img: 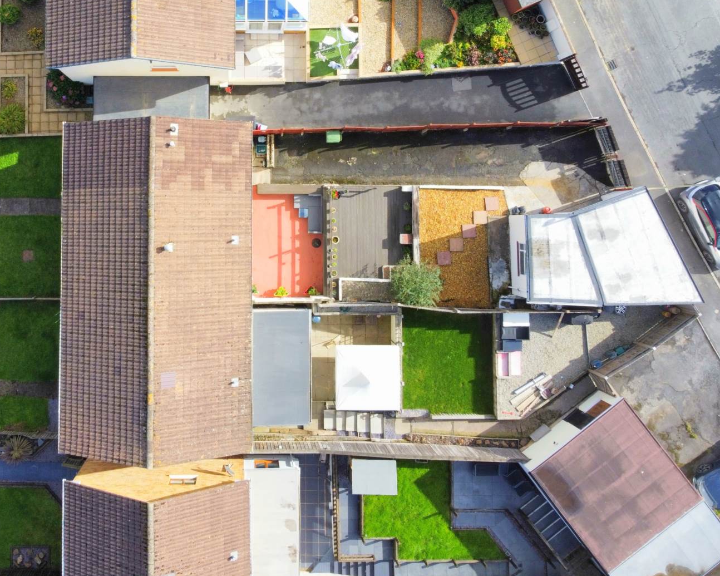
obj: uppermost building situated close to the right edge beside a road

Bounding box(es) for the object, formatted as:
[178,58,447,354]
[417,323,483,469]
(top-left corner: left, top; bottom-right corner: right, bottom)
[506,188,703,307]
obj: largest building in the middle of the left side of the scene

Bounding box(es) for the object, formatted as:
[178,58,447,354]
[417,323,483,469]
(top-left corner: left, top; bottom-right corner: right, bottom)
[56,116,256,470]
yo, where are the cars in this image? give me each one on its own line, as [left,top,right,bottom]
[673,184,720,269]
[694,457,720,510]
